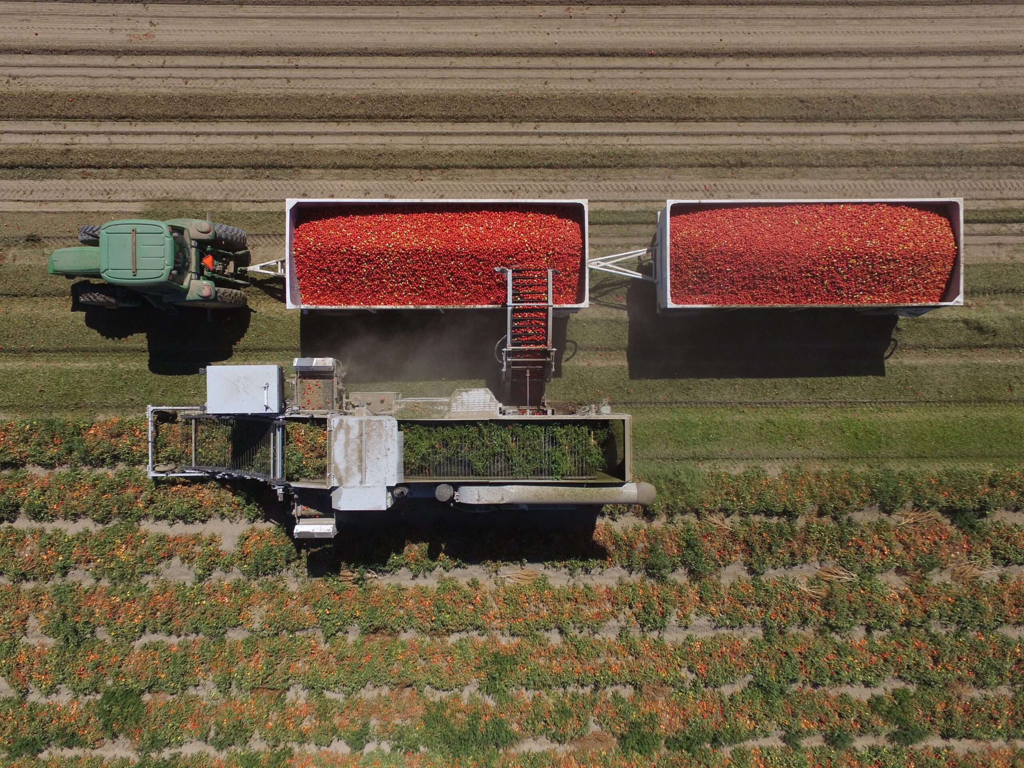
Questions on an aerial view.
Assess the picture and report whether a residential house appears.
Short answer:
No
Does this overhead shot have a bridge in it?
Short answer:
No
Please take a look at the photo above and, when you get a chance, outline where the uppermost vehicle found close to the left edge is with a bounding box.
[45,212,250,323]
